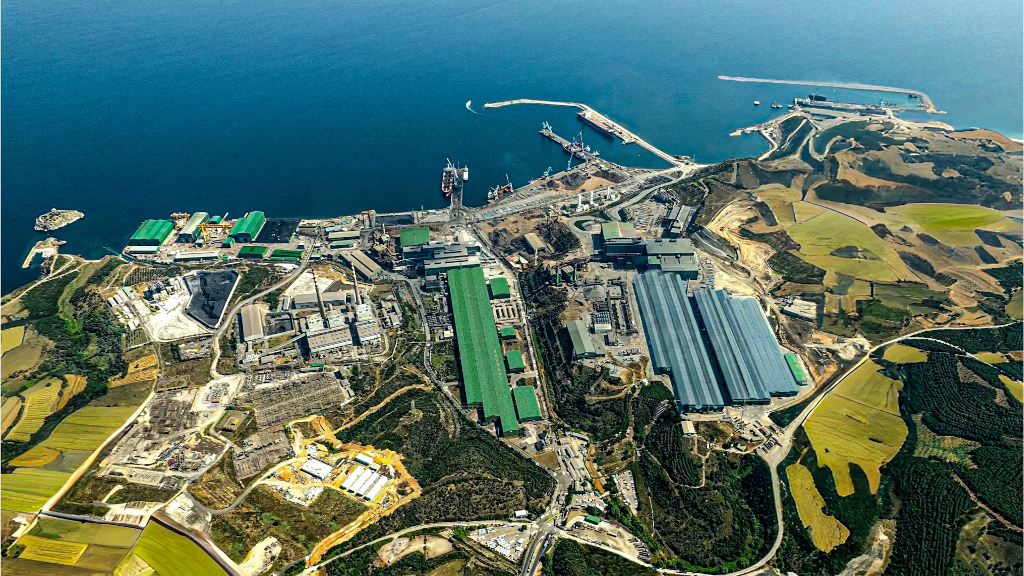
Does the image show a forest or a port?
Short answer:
port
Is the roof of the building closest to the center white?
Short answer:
No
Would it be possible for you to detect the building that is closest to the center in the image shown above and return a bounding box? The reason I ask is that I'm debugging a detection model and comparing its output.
[489,277,511,300]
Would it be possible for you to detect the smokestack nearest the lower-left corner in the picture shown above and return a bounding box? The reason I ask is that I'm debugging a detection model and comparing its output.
[307,260,326,319]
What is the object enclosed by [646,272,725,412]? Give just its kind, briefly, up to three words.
building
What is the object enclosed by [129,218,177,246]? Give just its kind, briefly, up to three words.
building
